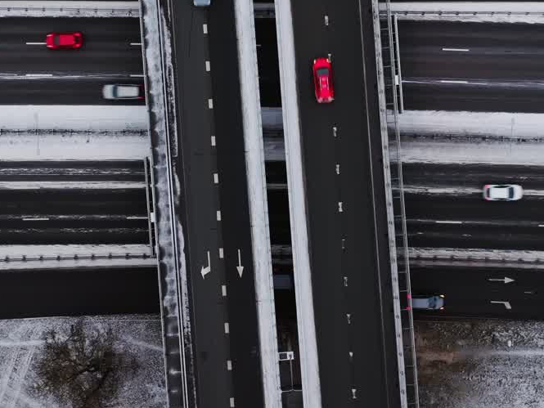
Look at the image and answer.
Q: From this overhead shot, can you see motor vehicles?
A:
Yes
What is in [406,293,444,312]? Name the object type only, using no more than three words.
car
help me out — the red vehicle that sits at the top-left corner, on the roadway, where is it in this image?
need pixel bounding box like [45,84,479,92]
[45,31,82,50]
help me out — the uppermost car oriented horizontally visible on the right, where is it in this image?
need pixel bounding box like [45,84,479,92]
[483,183,523,202]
